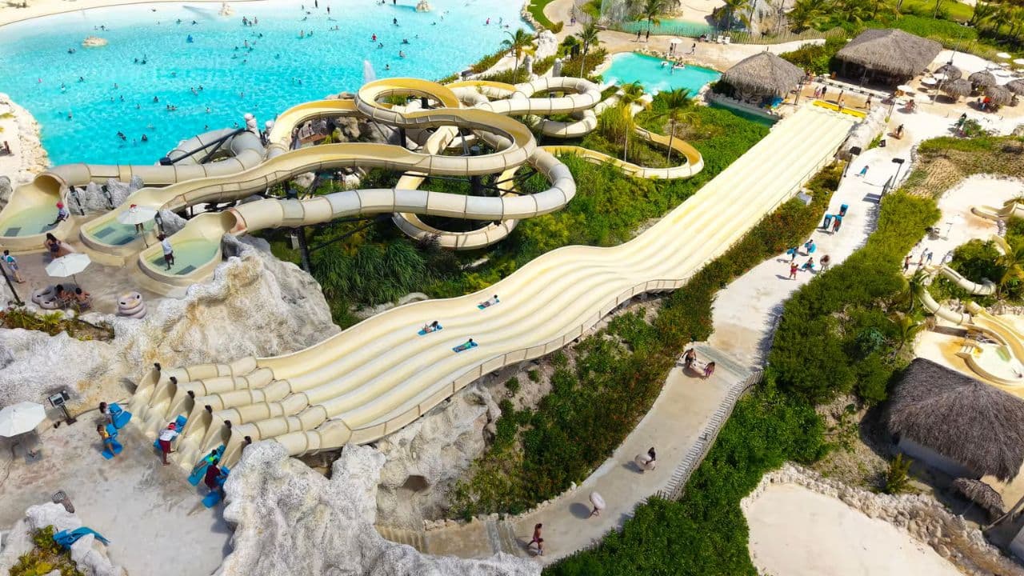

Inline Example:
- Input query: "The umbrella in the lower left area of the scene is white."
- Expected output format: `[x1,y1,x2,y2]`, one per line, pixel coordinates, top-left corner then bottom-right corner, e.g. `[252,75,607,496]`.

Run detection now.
[0,382,46,467]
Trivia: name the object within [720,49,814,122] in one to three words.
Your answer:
shed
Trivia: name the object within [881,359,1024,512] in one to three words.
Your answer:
shed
